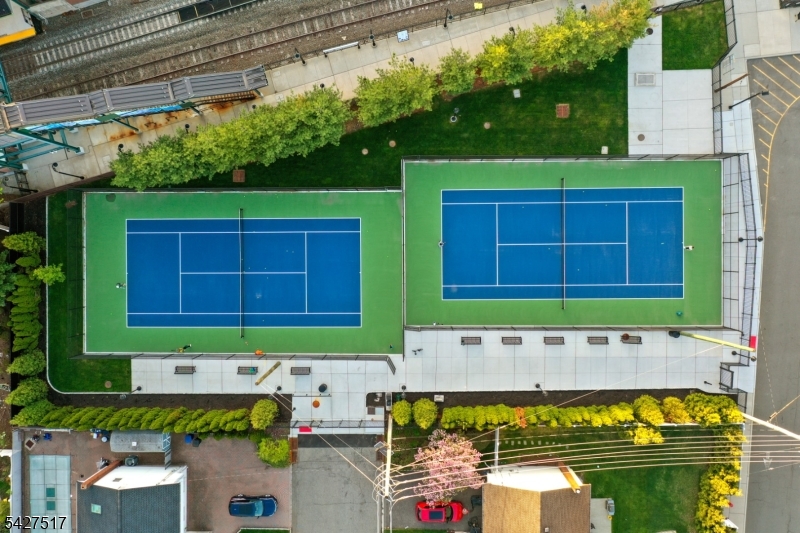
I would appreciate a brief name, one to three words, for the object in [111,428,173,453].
shed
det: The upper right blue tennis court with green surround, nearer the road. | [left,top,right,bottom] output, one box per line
[406,161,722,325]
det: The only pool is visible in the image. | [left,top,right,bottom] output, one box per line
[24,452,76,533]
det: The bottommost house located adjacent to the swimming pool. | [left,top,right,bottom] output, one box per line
[77,461,188,533]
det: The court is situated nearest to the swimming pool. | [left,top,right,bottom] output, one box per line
[86,191,404,353]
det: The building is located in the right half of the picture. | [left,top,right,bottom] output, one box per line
[482,462,591,533]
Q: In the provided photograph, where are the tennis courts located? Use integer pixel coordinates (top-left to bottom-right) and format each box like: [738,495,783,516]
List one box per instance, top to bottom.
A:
[406,161,722,325]
[86,191,404,353]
